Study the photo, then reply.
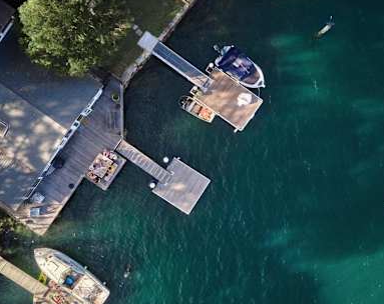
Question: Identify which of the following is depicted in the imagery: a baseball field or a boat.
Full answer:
The image shows a boat.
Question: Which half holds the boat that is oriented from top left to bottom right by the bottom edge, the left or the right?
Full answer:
The boat that is oriented from top left to bottom right by the bottom edge appears in the left half of the scene.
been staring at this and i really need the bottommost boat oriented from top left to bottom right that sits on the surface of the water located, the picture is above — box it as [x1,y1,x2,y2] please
[31,249,111,304]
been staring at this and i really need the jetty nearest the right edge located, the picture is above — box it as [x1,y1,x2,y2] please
[193,68,263,131]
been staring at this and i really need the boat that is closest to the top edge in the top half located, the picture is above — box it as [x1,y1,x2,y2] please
[207,43,269,88]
